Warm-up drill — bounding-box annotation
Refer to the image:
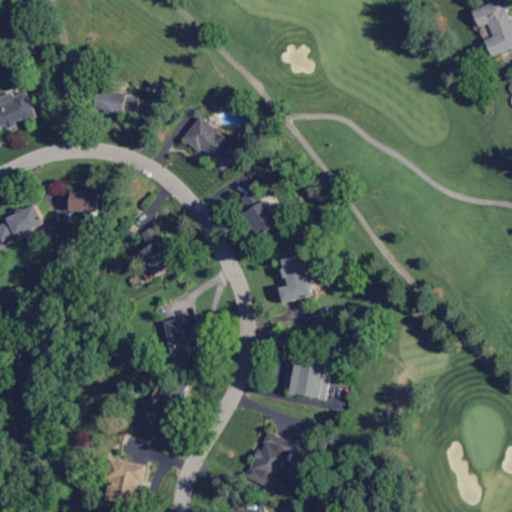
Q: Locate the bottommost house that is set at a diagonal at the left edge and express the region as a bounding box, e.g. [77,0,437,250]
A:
[0,204,42,244]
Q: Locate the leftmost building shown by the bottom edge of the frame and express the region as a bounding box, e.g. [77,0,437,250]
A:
[106,456,148,498]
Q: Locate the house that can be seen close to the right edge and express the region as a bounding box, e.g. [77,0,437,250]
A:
[472,2,512,57]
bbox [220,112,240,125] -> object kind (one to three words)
swimming pool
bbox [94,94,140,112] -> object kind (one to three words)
house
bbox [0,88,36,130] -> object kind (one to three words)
house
